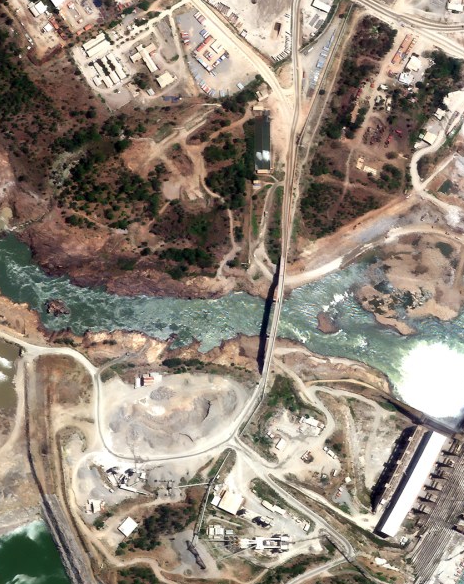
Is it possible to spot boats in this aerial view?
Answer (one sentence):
No, the picture doesn't show any boat.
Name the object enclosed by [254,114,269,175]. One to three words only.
building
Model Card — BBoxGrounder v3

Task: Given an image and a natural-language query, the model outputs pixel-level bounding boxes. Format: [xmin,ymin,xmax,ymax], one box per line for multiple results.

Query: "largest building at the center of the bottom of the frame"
[218,491,244,515]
